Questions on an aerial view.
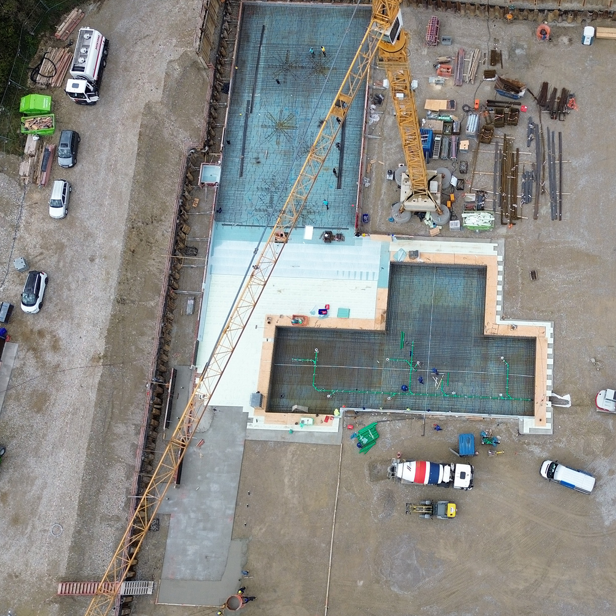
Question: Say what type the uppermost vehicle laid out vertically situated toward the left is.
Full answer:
I'd say the uppermost vehicle laid out vertically situated toward the left is a truck.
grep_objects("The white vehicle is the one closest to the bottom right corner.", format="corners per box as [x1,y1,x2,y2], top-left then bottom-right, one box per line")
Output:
[538,459,599,497]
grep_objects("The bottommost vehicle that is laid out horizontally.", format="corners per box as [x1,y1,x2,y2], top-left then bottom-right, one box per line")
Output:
[402,500,456,521]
